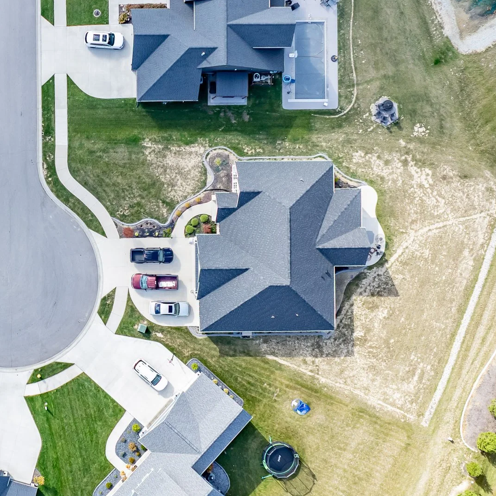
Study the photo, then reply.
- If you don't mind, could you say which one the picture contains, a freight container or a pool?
pool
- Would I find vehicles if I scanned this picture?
Yes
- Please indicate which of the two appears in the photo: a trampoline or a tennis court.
trampoline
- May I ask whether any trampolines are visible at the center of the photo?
No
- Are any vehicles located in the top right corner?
No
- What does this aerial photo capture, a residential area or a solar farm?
residential area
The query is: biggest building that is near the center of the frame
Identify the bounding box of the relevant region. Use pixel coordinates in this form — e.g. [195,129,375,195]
[189,161,371,332]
